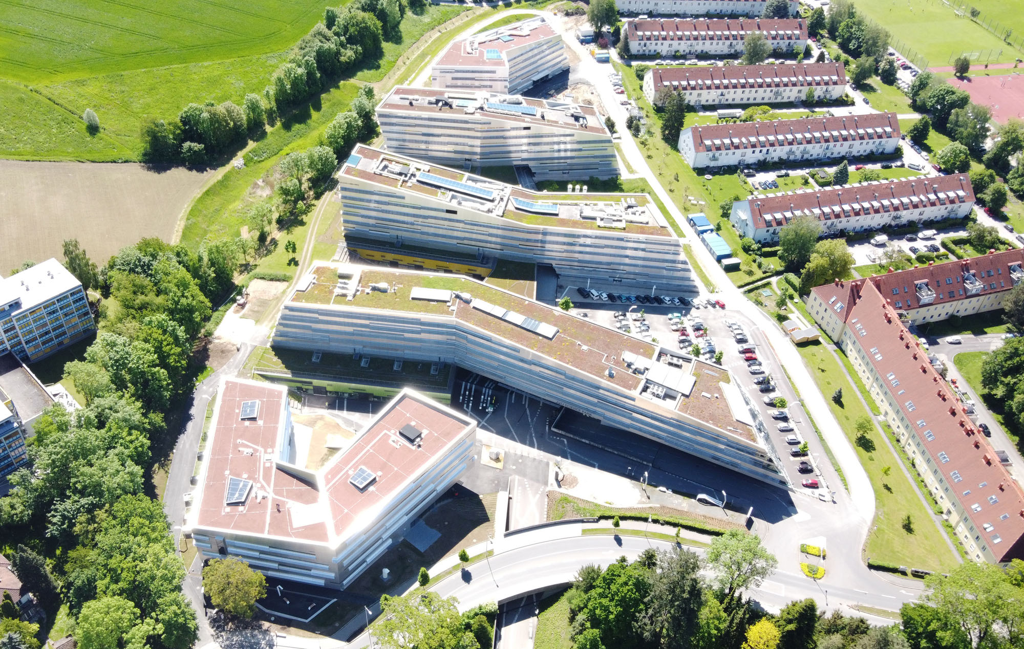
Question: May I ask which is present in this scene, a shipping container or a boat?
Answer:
shipping container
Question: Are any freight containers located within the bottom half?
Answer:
No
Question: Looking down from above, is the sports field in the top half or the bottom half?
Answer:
top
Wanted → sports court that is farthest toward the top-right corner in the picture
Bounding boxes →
[969,73,1024,124]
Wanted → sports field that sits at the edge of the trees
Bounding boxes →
[855,0,1024,66]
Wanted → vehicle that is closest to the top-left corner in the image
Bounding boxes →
[232,292,253,310]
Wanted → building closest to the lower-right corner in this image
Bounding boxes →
[840,306,1024,578]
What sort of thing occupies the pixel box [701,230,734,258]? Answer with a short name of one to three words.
shipping container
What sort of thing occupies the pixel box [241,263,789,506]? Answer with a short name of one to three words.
building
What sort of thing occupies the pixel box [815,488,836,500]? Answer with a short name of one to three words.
vehicle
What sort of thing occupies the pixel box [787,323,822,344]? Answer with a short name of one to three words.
shed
